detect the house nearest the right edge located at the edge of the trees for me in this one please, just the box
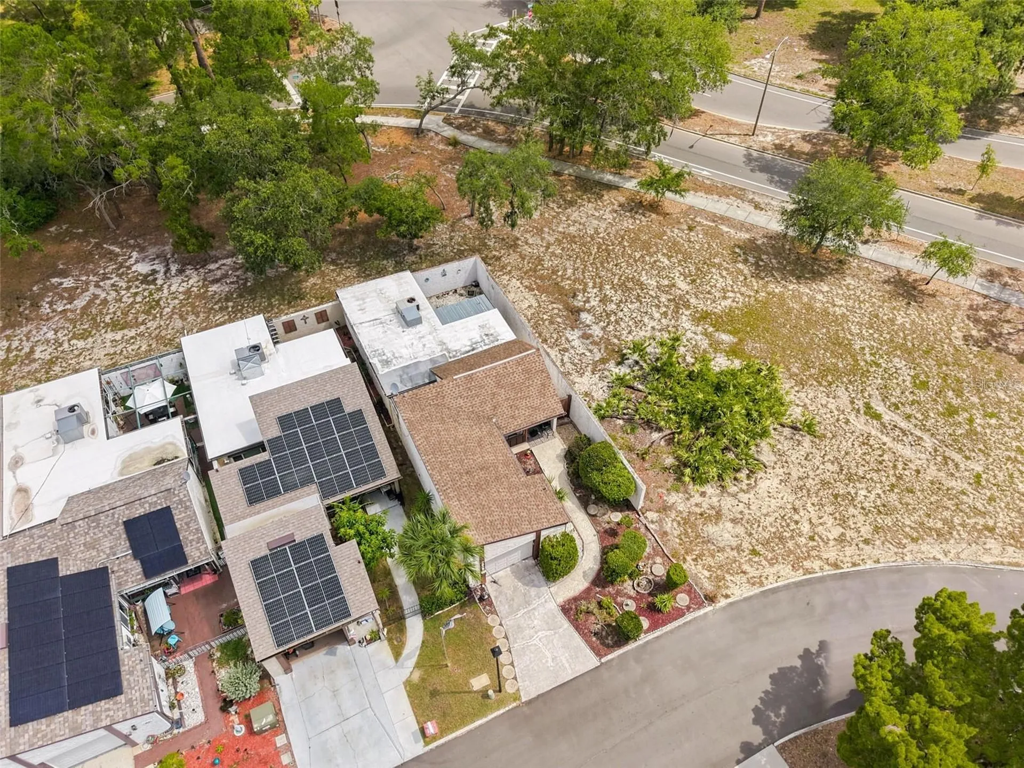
[338,257,570,583]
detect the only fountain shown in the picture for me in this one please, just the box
[633,573,656,596]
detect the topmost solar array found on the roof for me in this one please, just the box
[240,407,391,512]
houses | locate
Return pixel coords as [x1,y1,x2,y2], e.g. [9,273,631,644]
[0,368,230,768]
[180,313,402,675]
[338,257,570,583]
